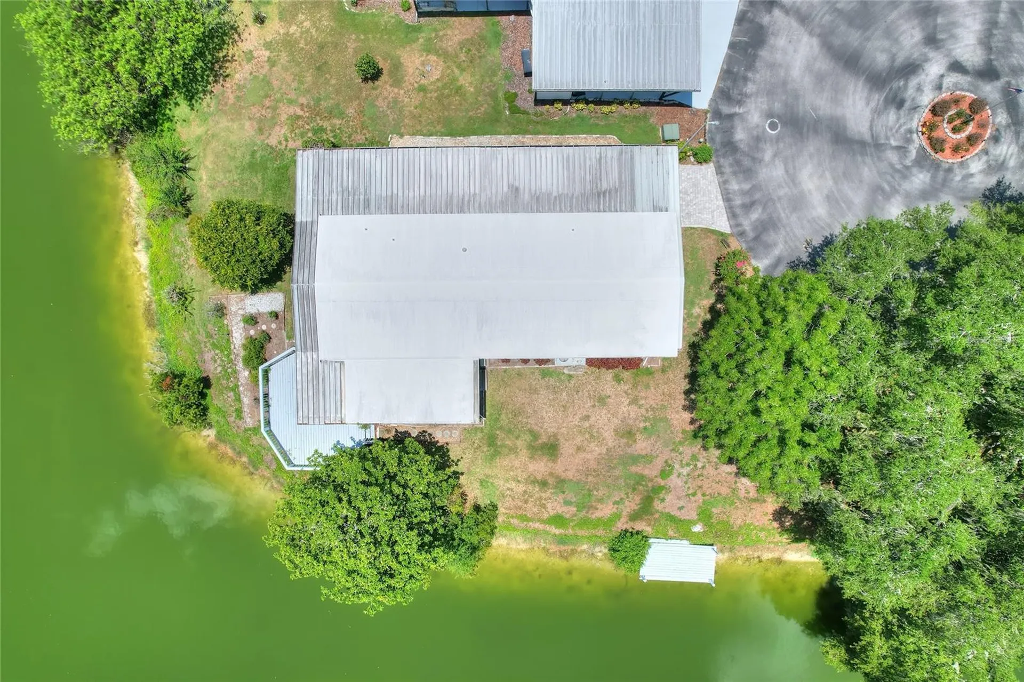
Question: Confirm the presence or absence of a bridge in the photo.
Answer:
No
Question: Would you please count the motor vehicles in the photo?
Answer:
0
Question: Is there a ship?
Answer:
No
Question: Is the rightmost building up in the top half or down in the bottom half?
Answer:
top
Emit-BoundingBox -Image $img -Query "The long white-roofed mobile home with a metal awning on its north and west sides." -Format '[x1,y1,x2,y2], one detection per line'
[291,144,685,428]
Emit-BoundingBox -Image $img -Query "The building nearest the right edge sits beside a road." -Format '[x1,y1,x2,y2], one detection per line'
[532,0,706,104]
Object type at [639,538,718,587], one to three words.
pier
